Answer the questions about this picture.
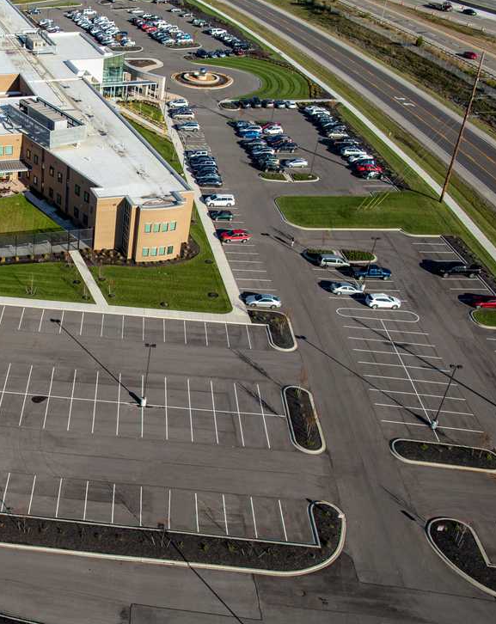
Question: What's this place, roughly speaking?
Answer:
parking lot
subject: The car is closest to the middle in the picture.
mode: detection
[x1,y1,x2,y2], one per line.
[245,294,282,309]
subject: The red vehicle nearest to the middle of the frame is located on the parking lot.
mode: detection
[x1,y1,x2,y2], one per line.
[219,228,251,243]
